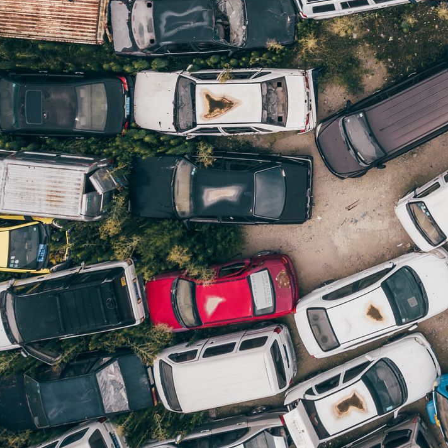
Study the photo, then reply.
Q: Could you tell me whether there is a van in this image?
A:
Yes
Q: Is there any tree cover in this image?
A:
No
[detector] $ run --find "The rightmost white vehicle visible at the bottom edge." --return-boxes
[271,332,443,448]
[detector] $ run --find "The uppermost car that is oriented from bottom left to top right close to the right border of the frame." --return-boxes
[317,55,448,174]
